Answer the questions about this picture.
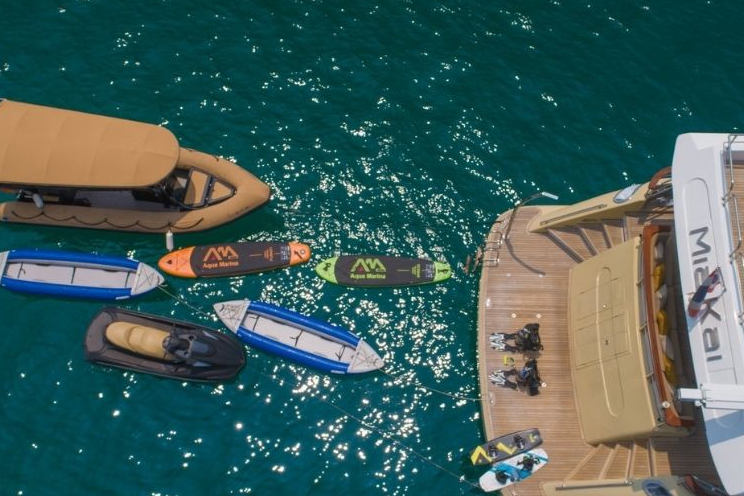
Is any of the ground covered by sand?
No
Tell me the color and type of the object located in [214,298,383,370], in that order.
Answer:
white boat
